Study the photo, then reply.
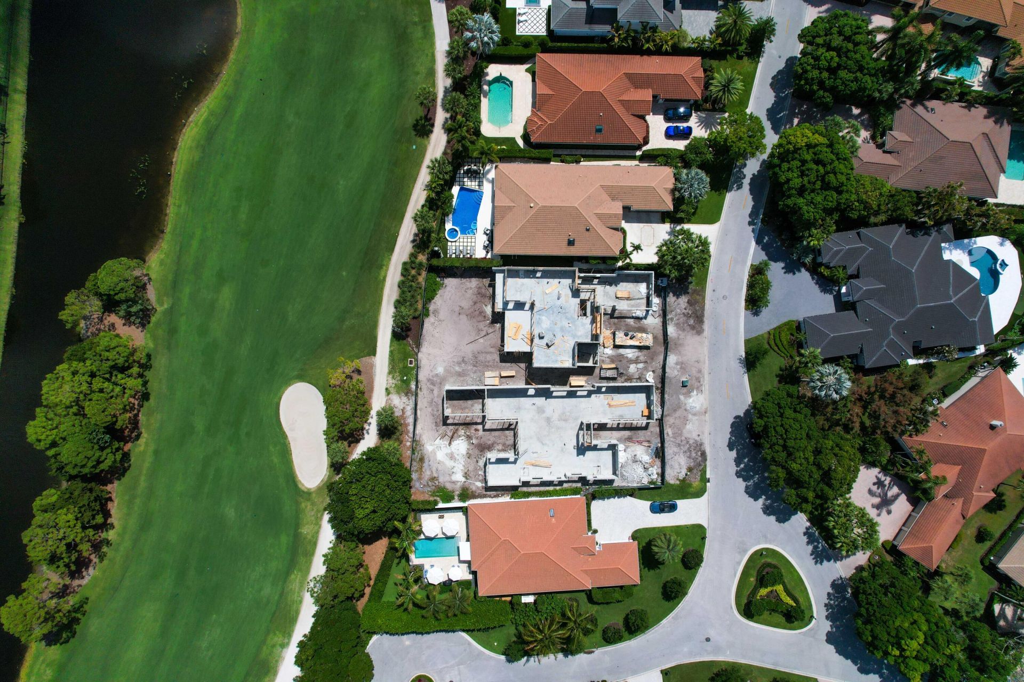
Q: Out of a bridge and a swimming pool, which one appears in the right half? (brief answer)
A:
swimming pool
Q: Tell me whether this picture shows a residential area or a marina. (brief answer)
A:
residential area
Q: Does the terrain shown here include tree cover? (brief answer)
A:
Yes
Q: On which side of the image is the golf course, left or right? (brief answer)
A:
left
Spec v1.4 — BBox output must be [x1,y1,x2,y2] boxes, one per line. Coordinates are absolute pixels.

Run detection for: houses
[893,366,1024,571]
[992,525,1024,588]
[551,0,681,35]
[495,267,654,367]
[527,53,704,146]
[493,164,675,256]
[849,97,1012,199]
[444,382,656,486]
[468,497,640,597]
[799,223,995,369]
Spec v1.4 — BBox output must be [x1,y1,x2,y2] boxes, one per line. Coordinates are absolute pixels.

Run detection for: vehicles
[744,421,763,448]
[649,501,678,514]
[665,126,692,138]
[665,107,692,121]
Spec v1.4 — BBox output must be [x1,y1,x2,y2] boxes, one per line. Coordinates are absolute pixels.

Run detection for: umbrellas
[448,566,462,581]
[422,519,441,537]
[426,566,444,584]
[442,519,459,536]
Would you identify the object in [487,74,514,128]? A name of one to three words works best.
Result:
swimming pool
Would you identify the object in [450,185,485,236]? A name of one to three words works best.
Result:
swimming pool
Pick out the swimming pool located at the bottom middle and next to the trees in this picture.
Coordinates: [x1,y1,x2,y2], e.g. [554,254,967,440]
[414,535,458,560]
